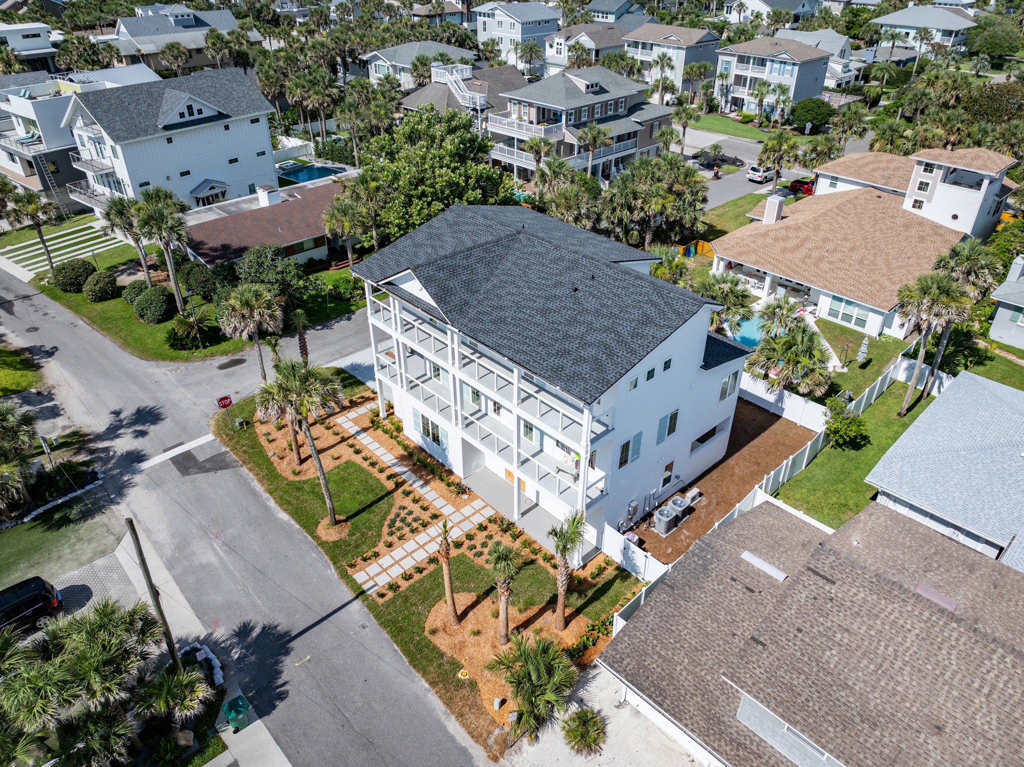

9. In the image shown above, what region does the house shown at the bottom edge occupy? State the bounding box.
[588,482,1024,767]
